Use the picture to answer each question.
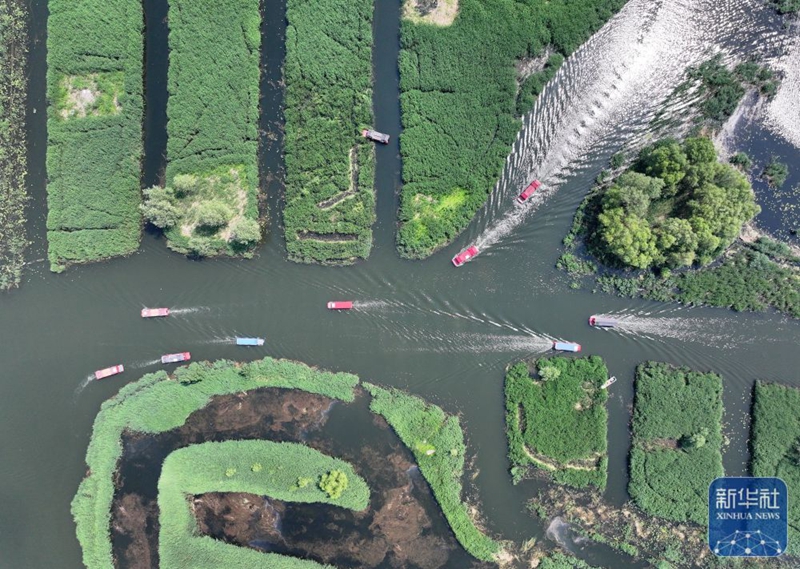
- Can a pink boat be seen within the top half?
Yes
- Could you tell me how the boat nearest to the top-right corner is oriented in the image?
on a diagonal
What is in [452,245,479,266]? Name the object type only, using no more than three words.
boat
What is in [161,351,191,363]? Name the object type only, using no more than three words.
boat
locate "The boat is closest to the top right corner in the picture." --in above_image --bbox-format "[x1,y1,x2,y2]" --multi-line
[517,177,544,204]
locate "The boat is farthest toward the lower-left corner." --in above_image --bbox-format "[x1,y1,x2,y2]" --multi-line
[95,363,125,379]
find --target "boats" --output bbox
[95,363,125,379]
[362,128,391,143]
[161,351,191,363]
[602,376,616,388]
[142,308,170,317]
[452,245,479,266]
[588,317,618,327]
[552,340,581,352]
[236,337,264,345]
[327,301,355,310]
[517,177,544,204]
